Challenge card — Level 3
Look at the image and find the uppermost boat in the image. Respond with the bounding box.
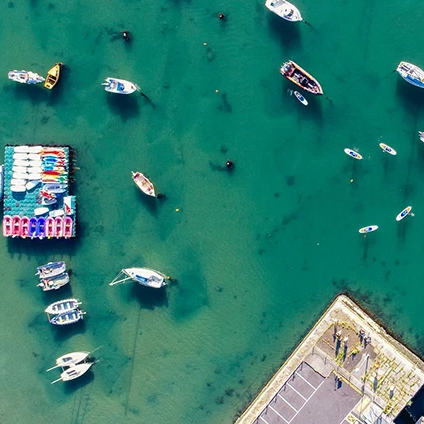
[265,0,320,35]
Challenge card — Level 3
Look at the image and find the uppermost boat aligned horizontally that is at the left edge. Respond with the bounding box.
[7,69,46,86]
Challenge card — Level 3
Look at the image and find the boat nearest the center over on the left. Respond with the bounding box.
[130,172,162,200]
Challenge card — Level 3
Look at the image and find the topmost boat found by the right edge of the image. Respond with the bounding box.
[397,61,424,90]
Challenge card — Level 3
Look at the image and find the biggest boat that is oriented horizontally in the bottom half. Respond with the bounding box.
[106,268,172,288]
